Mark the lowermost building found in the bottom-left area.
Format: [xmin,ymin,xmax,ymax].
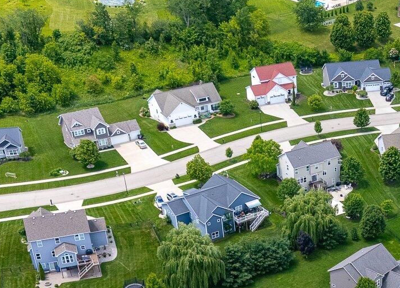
[24,202,109,277]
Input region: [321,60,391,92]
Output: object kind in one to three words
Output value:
house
